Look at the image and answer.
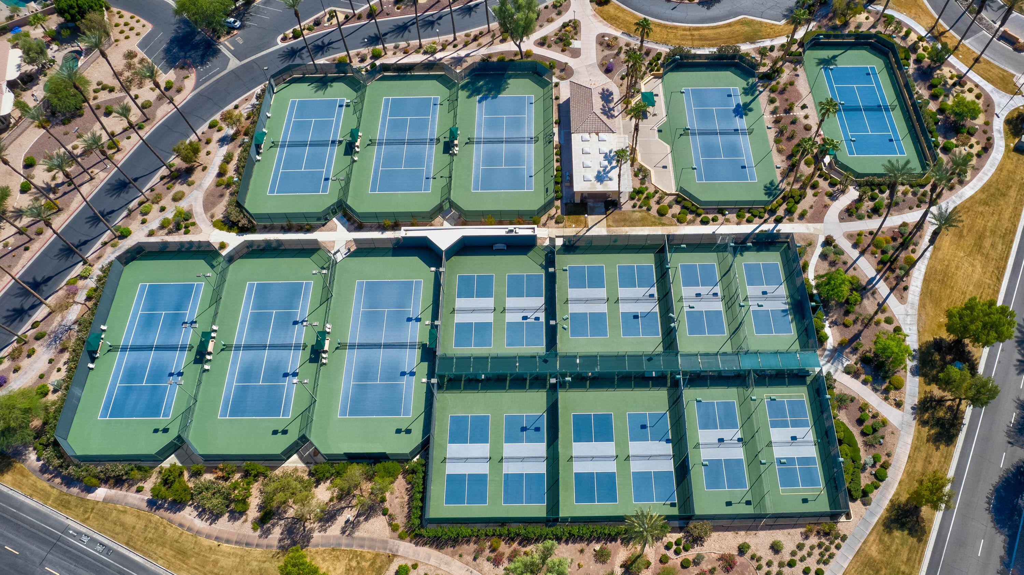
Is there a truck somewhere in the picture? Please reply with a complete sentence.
No, this view has no truck in it.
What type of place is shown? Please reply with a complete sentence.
What you see here is a sports ground.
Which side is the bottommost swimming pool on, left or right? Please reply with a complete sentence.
You can find the bottommost swimming pool on the left side of the picture.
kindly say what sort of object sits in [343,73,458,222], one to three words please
tennis court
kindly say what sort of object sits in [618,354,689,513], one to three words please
sports court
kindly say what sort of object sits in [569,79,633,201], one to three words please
building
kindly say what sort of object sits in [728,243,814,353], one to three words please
sports court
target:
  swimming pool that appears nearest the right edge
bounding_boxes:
[44,50,83,91]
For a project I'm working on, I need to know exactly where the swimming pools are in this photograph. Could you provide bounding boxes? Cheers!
[1,0,39,7]
[44,50,83,91]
